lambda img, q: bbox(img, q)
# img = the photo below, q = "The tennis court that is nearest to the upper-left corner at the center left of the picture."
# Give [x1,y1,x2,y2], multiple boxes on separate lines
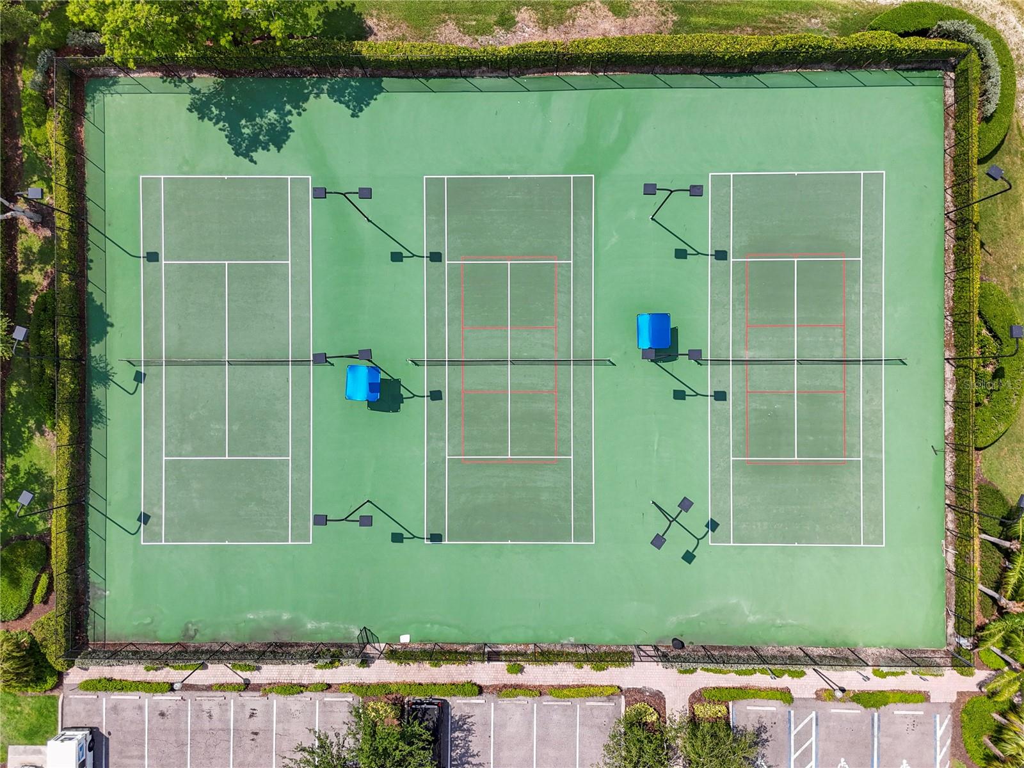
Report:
[140,176,311,544]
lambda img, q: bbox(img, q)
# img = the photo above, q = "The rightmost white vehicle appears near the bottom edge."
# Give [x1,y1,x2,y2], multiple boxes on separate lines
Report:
[49,724,97,768]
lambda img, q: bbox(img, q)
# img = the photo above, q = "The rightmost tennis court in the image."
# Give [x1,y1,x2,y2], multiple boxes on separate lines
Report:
[709,171,885,546]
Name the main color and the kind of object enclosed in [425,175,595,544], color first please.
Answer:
green tennis court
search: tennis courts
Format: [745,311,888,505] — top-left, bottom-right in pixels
[709,171,885,546]
[425,175,595,544]
[140,176,311,544]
